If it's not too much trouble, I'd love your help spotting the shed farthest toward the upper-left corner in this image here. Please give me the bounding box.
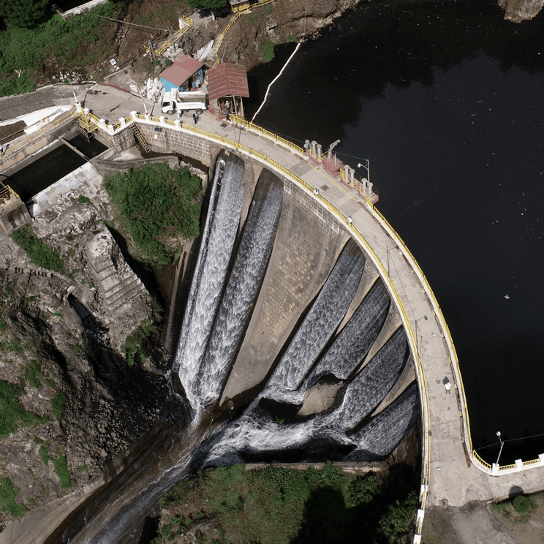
[159,55,205,93]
